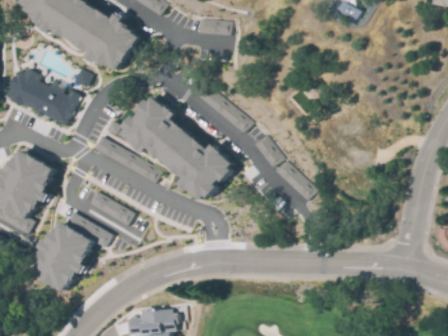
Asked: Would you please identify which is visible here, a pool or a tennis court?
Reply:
pool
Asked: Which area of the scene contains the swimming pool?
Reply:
top left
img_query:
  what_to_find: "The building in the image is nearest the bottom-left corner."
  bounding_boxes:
[38,224,97,289]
